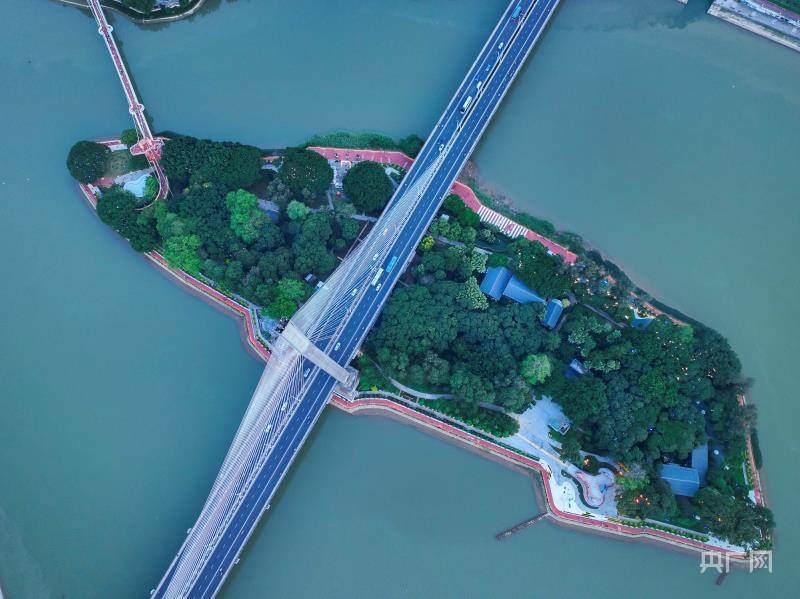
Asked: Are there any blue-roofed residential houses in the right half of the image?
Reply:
Yes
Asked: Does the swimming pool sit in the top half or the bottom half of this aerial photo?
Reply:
top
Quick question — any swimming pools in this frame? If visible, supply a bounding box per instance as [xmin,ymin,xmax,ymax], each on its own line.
[123,174,151,198]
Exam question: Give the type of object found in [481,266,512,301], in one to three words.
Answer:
building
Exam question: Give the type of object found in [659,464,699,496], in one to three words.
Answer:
house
